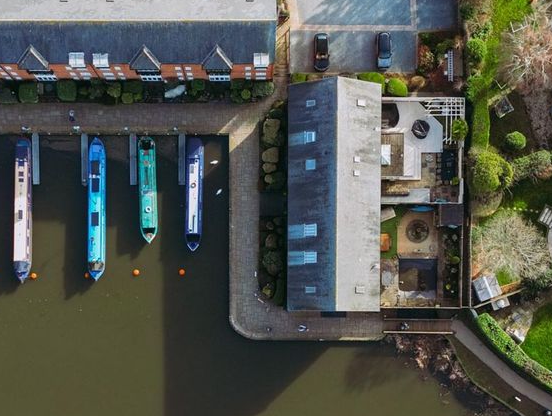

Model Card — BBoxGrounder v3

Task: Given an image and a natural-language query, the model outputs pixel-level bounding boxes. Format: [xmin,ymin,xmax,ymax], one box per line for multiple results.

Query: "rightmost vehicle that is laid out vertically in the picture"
[376,30,394,67]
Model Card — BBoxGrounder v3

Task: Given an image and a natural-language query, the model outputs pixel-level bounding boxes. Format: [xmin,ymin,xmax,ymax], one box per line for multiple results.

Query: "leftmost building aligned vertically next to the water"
[283,78,383,312]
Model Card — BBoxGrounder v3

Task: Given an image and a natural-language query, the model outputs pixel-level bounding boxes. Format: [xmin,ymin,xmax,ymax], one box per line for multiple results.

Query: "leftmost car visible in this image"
[314,33,331,69]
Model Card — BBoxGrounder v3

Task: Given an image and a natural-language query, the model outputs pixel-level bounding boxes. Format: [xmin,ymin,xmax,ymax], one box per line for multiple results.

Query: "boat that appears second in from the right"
[138,136,157,245]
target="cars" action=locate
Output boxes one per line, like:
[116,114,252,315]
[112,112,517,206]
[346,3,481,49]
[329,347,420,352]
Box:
[376,30,394,67]
[314,33,331,69]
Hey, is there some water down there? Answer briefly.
Yes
